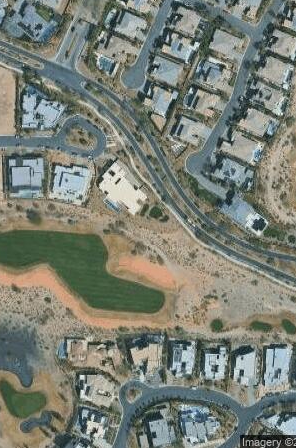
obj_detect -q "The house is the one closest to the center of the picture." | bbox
[88,155,152,223]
